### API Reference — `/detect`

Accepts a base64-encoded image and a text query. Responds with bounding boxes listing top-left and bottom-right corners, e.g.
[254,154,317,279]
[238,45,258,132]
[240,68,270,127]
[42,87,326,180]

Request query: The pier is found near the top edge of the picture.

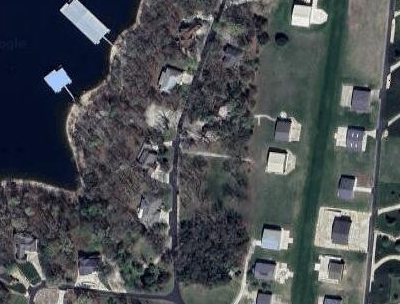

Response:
[62,0,114,48]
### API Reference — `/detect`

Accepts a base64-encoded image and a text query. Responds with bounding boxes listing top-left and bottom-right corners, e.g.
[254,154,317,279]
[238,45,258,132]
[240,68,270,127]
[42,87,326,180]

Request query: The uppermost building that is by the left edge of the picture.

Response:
[15,235,37,260]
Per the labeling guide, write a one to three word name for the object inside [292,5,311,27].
hangar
